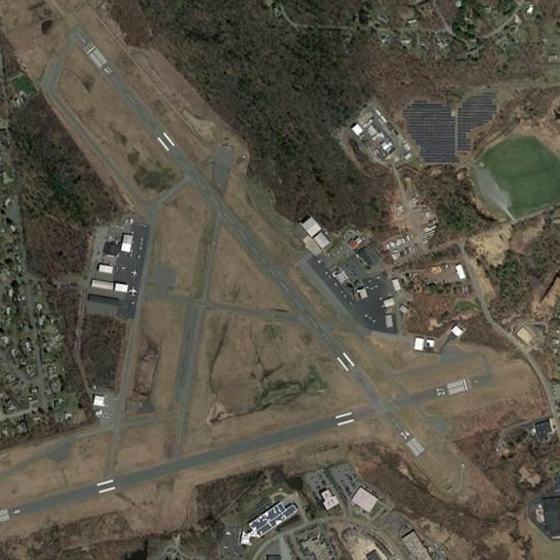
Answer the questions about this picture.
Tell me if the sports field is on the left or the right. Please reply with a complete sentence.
You can find the sports field on the right side of the picture.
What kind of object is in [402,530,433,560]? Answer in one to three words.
building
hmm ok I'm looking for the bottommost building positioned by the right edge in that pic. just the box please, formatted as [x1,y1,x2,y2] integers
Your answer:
[542,497,560,538]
